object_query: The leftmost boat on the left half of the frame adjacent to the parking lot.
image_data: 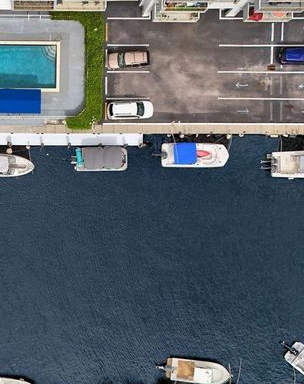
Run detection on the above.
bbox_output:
[67,147,126,172]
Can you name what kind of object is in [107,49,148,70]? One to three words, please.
car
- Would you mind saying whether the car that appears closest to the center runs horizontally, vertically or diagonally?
horizontally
